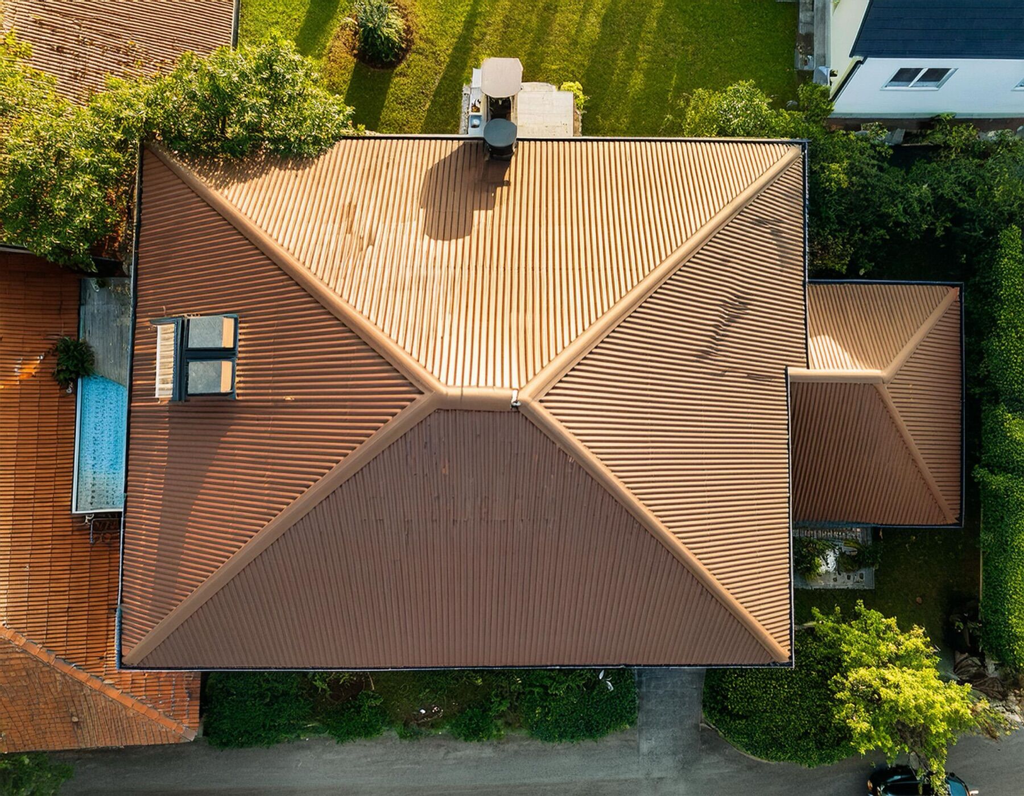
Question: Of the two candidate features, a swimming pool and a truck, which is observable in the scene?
swimming pool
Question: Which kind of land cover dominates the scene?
buildings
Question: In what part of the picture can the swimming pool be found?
left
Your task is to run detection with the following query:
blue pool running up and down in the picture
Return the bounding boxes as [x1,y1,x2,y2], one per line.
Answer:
[79,378,125,515]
